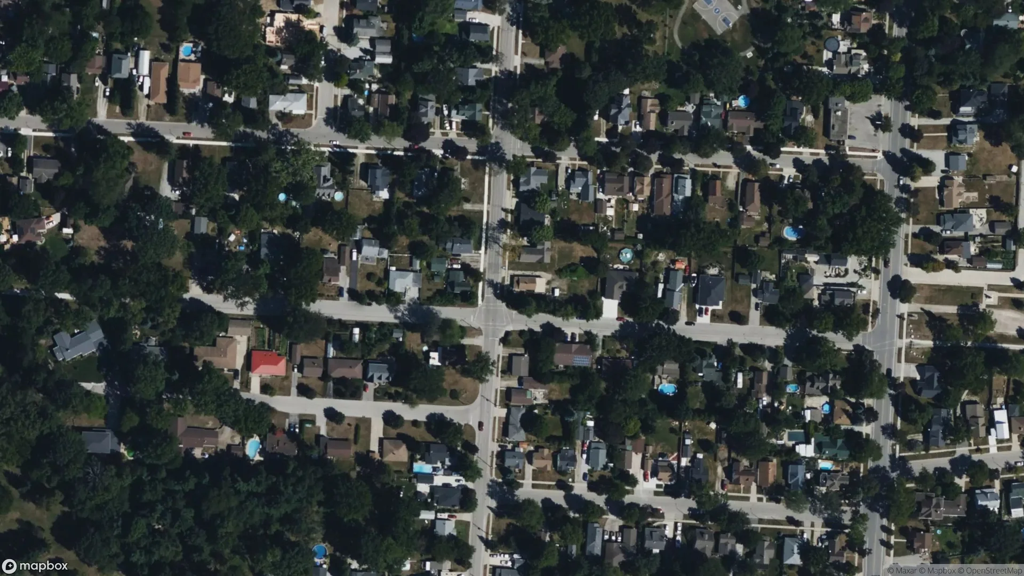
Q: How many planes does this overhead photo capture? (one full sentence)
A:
There are no planes in the image.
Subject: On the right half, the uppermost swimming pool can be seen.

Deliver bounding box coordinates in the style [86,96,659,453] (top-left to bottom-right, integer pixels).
[824,36,840,52]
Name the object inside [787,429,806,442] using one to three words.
swimming pool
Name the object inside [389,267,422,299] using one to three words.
house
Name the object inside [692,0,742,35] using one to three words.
basketball court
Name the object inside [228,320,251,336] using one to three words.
building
